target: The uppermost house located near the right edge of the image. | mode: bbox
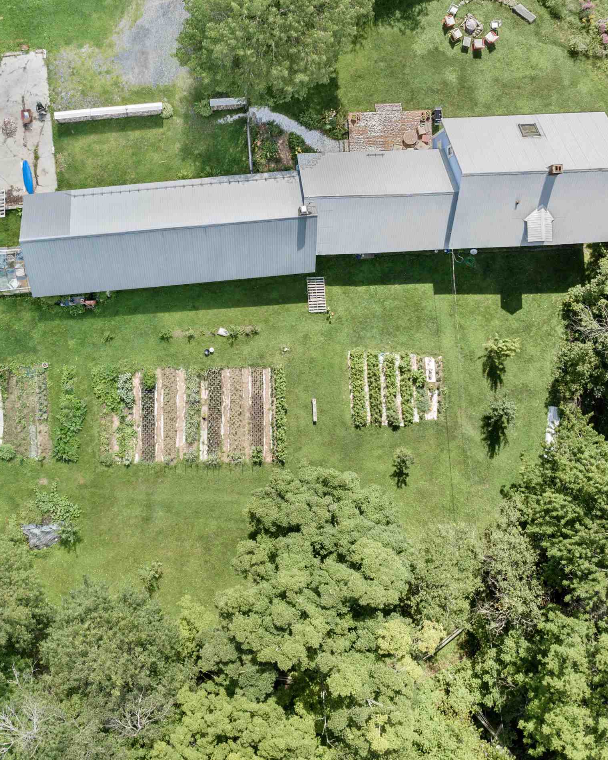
[431,112,608,251]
